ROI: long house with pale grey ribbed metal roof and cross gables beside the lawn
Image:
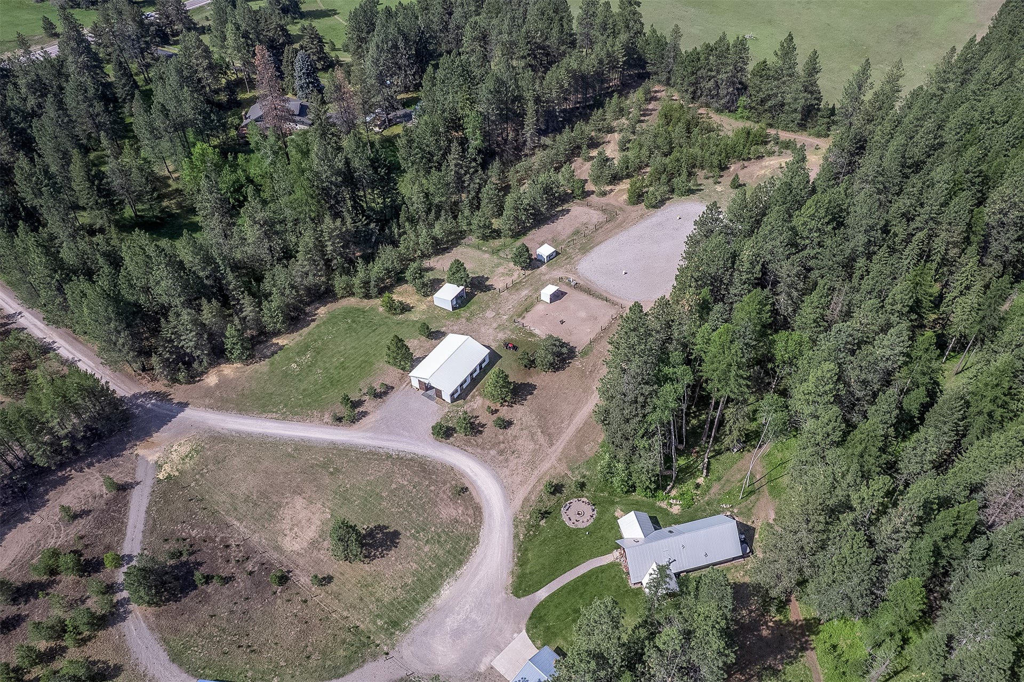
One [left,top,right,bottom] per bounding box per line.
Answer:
[610,511,751,603]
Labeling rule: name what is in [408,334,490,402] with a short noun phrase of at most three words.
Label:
barn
